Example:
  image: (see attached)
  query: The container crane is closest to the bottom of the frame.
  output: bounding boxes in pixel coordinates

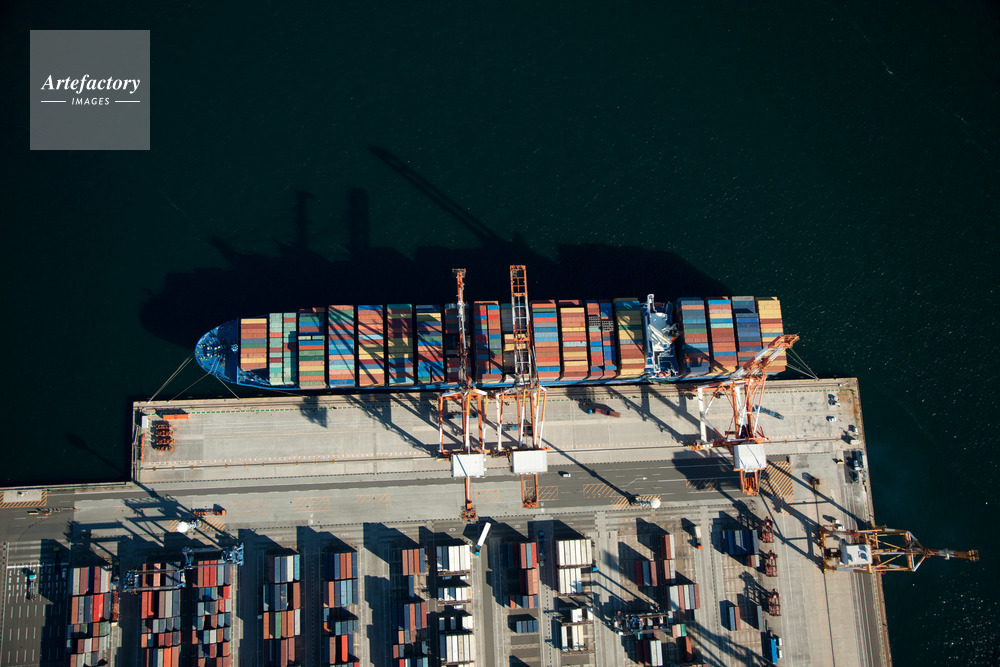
[600,604,671,637]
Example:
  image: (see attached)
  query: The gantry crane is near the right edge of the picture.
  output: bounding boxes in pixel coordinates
[822,522,983,581]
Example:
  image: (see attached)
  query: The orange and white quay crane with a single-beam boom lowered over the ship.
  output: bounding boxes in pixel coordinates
[428,266,493,520]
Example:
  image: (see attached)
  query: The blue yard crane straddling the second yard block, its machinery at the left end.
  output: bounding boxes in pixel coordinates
[125,561,194,593]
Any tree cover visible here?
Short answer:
No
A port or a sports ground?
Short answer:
port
